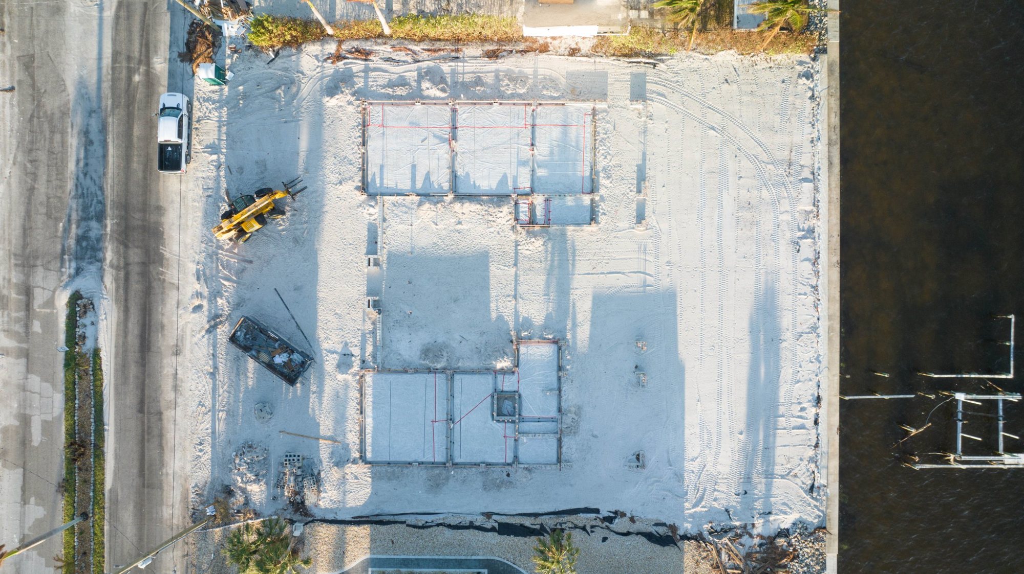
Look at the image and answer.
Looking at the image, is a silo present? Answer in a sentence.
No, the photo shows no silo.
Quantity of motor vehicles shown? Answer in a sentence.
There are 2 motor vehicles in the image.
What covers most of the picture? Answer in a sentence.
For the most part, this view shows paved ground.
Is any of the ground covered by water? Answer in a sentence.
Yes, water shows up in the scene.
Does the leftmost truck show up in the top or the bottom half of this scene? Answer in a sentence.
Seen from above, the leftmost truck lies in the top half of the view.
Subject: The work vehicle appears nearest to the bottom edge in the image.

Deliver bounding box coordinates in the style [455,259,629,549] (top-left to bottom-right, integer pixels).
[211,176,310,243]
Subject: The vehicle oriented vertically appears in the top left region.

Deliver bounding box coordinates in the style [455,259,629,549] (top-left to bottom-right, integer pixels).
[152,93,192,174]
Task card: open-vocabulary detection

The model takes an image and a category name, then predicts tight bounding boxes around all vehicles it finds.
[152,93,192,174]
[211,176,310,243]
